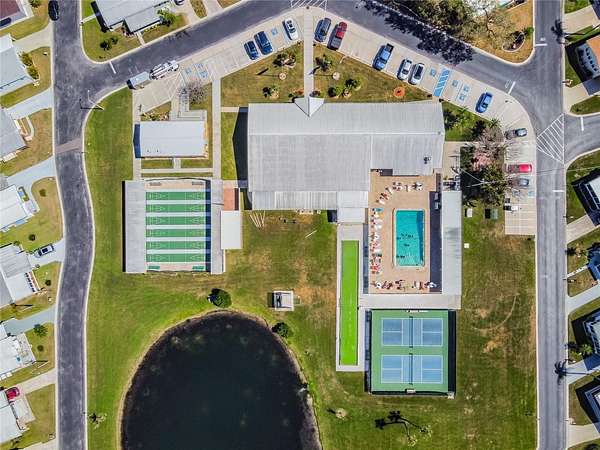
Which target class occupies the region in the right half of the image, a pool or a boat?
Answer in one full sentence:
You can see a pool in the right half of the image.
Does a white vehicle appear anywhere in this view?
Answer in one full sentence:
Yes, the image includes a white vehicle.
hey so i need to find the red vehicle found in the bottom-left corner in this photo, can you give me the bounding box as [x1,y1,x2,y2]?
[6,386,25,399]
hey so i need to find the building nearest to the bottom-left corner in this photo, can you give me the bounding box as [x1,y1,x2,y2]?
[0,388,29,444]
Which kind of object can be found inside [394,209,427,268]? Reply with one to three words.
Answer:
swimming pool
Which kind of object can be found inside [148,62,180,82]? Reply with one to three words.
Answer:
vehicle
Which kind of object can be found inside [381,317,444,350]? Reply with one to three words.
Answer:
sports court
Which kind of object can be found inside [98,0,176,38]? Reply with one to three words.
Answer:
house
